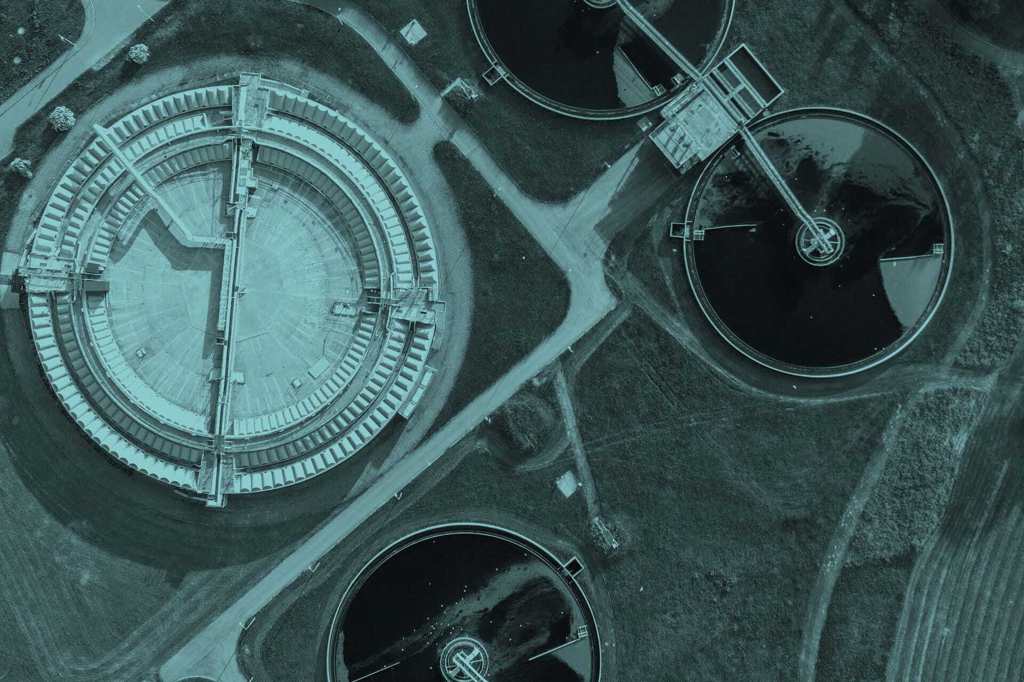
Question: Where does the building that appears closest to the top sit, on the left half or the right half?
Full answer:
The building that appears closest to the top appears in the right half of the scene.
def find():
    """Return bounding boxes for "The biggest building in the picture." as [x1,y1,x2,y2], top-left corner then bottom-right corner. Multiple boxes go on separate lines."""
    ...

[645,44,784,178]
